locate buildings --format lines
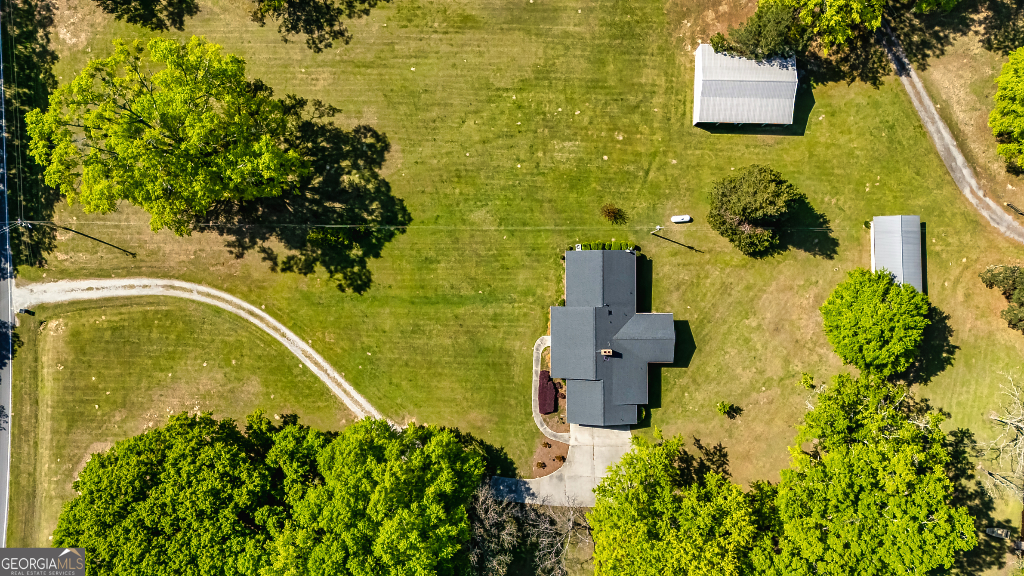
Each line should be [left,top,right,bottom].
[694,42,800,127]
[870,215,921,300]
[550,250,675,426]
